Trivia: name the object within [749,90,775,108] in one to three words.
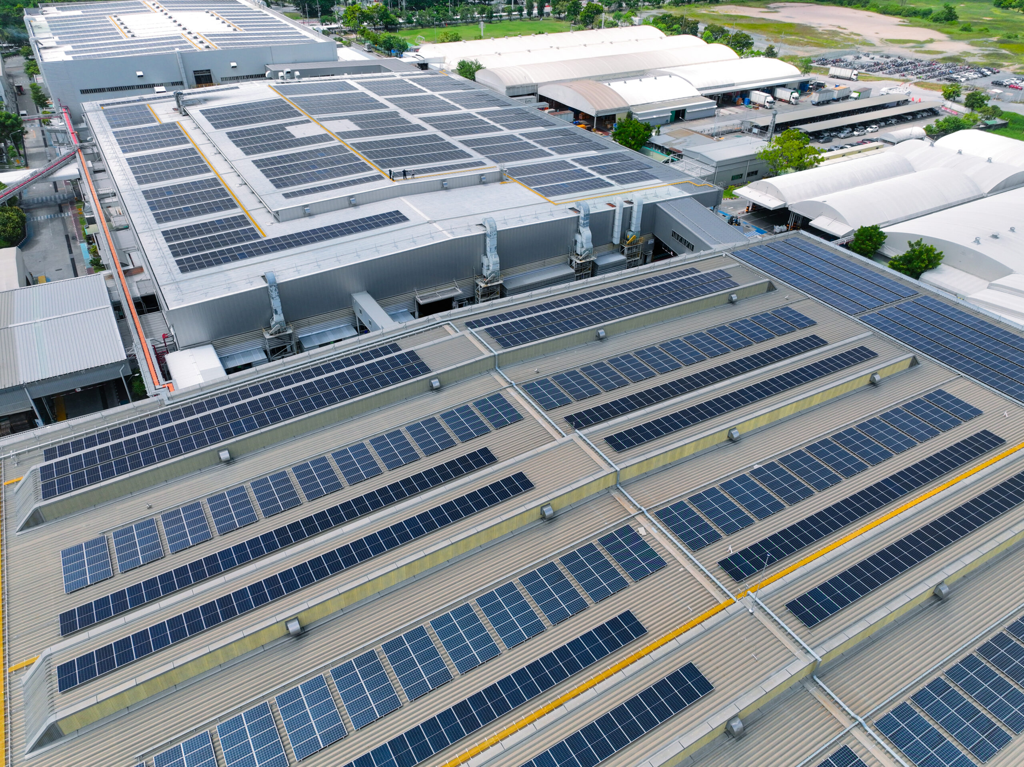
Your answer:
vehicle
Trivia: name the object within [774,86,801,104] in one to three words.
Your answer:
vehicle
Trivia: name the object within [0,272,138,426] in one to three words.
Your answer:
shed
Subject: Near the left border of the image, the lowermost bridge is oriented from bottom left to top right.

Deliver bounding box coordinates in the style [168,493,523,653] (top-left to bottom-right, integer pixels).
[0,145,81,202]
